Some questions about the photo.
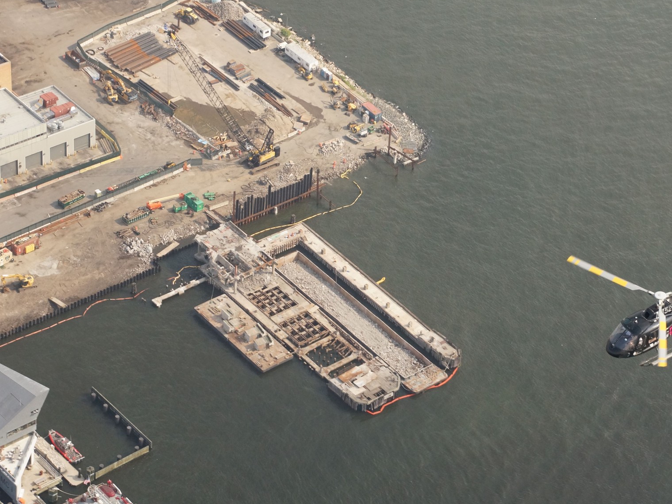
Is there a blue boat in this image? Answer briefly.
No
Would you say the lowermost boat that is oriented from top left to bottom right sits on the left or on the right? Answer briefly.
left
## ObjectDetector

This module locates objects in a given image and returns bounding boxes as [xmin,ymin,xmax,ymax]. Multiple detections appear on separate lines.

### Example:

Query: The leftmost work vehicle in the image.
[4,269,38,292]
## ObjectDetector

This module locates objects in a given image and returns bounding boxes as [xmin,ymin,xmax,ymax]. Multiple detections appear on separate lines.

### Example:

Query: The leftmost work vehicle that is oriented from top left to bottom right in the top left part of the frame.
[104,64,140,101]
